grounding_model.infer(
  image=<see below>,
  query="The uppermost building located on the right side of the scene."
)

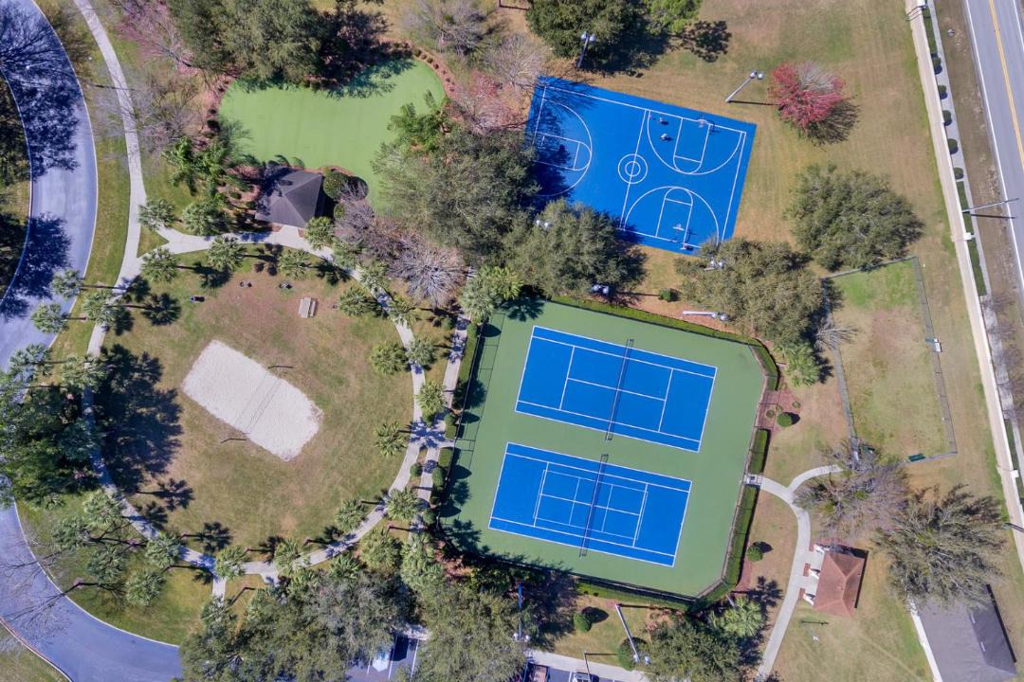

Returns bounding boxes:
[800,542,865,618]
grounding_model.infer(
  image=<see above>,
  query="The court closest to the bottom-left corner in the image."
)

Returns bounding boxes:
[180,338,326,464]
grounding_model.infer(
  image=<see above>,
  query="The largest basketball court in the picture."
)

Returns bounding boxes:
[509,75,758,259]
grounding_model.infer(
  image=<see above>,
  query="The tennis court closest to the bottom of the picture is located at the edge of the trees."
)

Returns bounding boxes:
[489,443,692,566]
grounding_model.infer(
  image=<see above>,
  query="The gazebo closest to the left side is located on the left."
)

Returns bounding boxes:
[255,165,324,228]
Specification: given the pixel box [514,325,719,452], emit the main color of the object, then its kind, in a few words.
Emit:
blue tennis court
